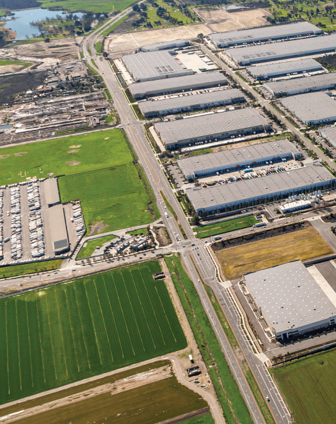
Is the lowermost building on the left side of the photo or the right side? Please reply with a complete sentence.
The lowermost building sits on the right side.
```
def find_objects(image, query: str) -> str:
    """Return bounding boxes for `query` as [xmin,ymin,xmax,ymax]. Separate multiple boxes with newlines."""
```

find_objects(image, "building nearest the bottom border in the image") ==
[243,260,336,341]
